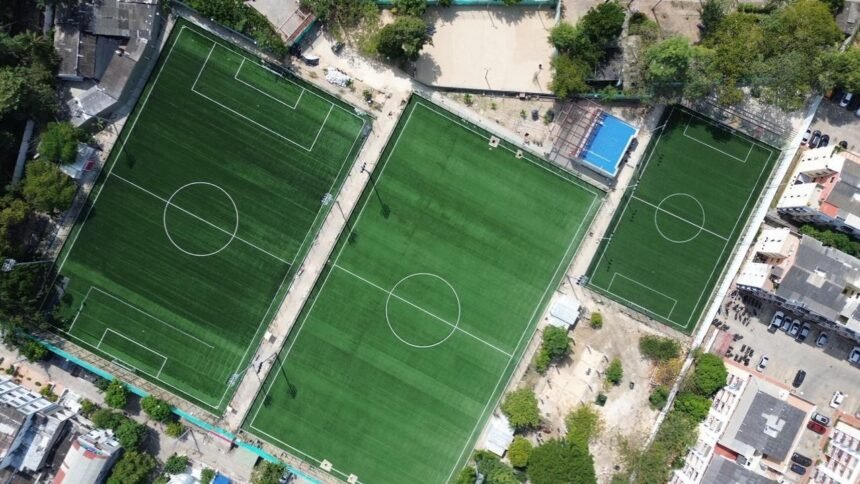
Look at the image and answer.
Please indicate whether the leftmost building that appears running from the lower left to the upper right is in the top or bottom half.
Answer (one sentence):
You can find the leftmost building that appears running from the lower left to the upper right in the bottom half.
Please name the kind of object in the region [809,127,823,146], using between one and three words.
car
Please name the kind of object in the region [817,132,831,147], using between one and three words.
vehicle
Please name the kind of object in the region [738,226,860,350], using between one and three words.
building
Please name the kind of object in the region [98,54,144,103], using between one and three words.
building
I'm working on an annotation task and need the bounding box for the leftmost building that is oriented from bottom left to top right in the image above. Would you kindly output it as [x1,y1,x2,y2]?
[10,410,74,484]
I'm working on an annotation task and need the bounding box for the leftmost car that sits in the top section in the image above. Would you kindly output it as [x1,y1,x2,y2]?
[330,39,345,56]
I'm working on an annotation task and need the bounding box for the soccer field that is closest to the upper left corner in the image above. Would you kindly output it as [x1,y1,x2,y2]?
[31,15,373,418]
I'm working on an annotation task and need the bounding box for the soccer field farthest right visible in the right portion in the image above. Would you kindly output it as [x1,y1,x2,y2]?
[585,101,782,338]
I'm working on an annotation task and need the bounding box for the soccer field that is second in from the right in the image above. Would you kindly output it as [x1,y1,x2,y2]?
[239,92,610,484]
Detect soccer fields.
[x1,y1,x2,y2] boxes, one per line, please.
[585,101,782,338]
[239,92,610,484]
[31,15,373,418]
